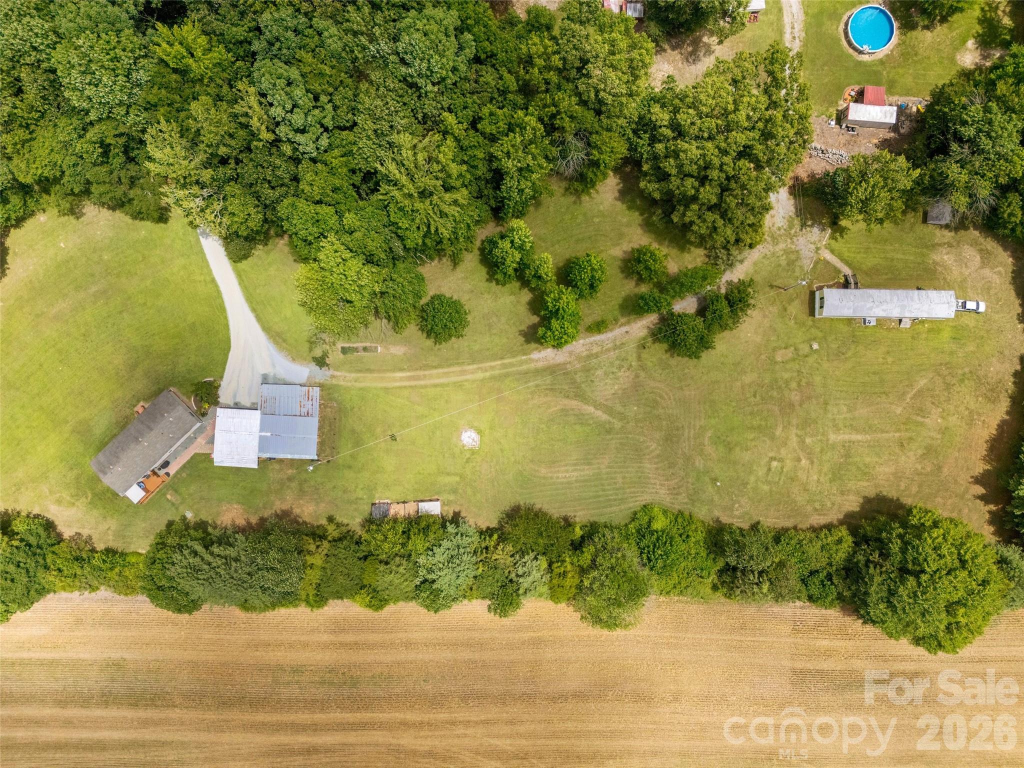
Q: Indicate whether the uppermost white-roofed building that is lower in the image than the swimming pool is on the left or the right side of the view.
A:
right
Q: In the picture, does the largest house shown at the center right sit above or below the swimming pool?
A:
below it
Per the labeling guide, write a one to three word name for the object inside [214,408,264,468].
barn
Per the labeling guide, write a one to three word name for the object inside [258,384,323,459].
barn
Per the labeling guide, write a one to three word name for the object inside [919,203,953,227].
shed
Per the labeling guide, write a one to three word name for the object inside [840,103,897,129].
building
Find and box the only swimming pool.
[845,6,895,56]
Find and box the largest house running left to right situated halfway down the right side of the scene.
[814,289,956,320]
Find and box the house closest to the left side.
[91,390,205,495]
